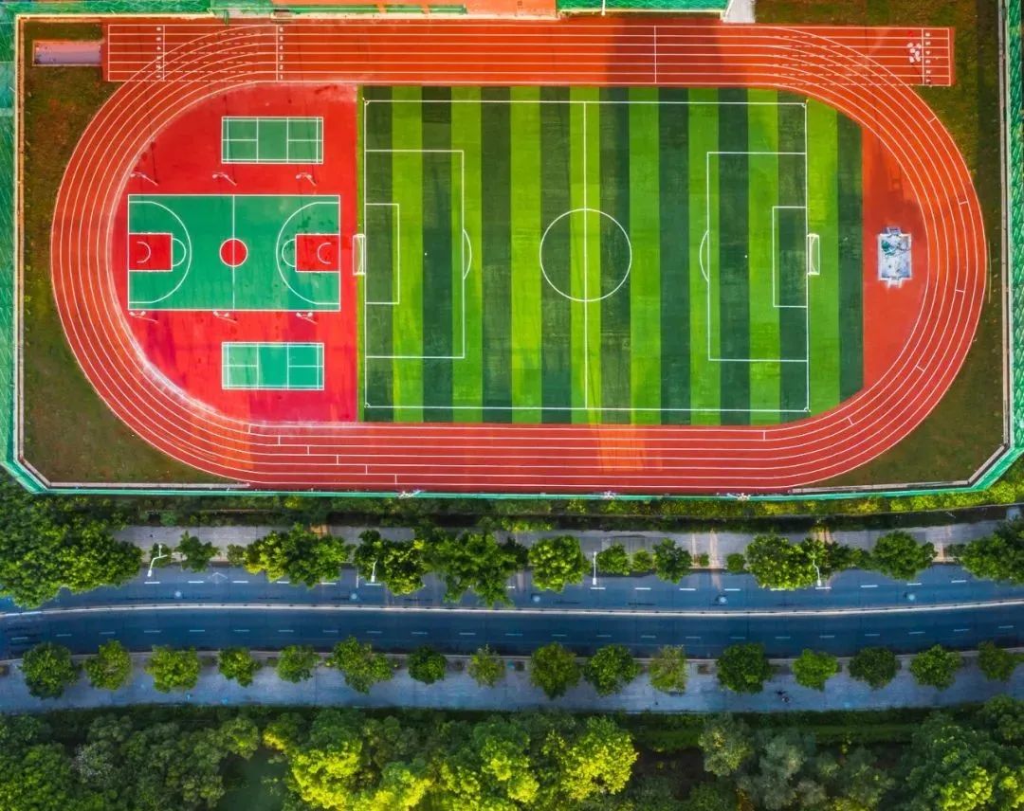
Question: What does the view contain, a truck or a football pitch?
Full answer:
This aerial view contains a football pitch.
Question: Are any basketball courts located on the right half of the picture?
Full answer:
No, I see no basketball court on the right half of the picture.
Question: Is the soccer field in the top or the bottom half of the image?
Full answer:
The top half of the photo is where the soccer field is.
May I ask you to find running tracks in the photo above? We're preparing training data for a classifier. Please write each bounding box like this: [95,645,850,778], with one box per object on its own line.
[50,17,987,491]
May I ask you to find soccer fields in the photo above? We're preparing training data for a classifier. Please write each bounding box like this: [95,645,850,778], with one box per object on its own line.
[357,86,863,425]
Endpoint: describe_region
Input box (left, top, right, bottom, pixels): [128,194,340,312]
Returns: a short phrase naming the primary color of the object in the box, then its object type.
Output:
green basketball court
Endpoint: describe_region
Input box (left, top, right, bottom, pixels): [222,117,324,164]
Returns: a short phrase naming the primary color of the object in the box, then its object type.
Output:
green sports court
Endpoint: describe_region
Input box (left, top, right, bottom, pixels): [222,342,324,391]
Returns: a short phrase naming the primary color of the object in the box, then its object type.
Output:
green sports court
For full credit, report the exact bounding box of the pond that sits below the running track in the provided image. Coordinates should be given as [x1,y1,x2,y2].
[225,754,285,811]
